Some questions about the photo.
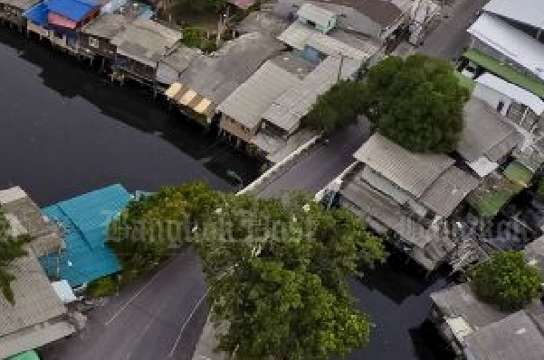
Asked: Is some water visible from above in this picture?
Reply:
Yes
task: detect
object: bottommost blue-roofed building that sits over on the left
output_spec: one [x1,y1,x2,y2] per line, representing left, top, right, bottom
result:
[42,190,127,298]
